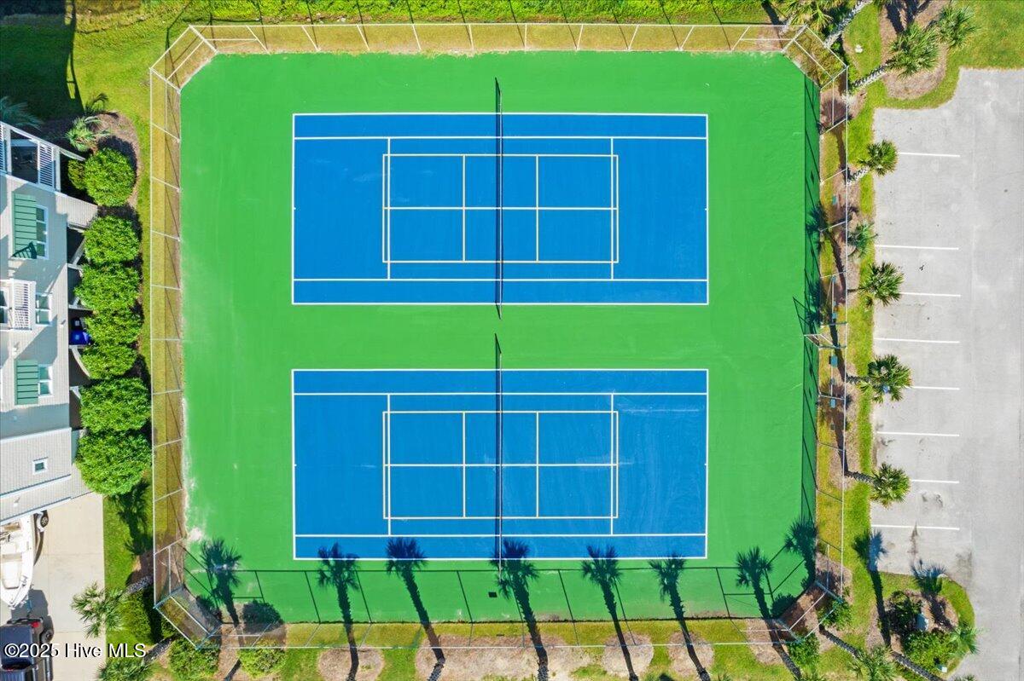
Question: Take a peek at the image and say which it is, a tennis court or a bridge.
tennis court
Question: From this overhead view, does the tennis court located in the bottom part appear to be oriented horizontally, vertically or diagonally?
horizontally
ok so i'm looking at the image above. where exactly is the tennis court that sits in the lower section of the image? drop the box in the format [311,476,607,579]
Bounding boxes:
[292,368,709,561]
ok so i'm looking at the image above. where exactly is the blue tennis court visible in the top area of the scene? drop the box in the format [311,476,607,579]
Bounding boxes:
[292,112,709,305]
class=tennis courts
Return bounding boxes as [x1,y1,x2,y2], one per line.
[292,112,709,305]
[292,368,709,561]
